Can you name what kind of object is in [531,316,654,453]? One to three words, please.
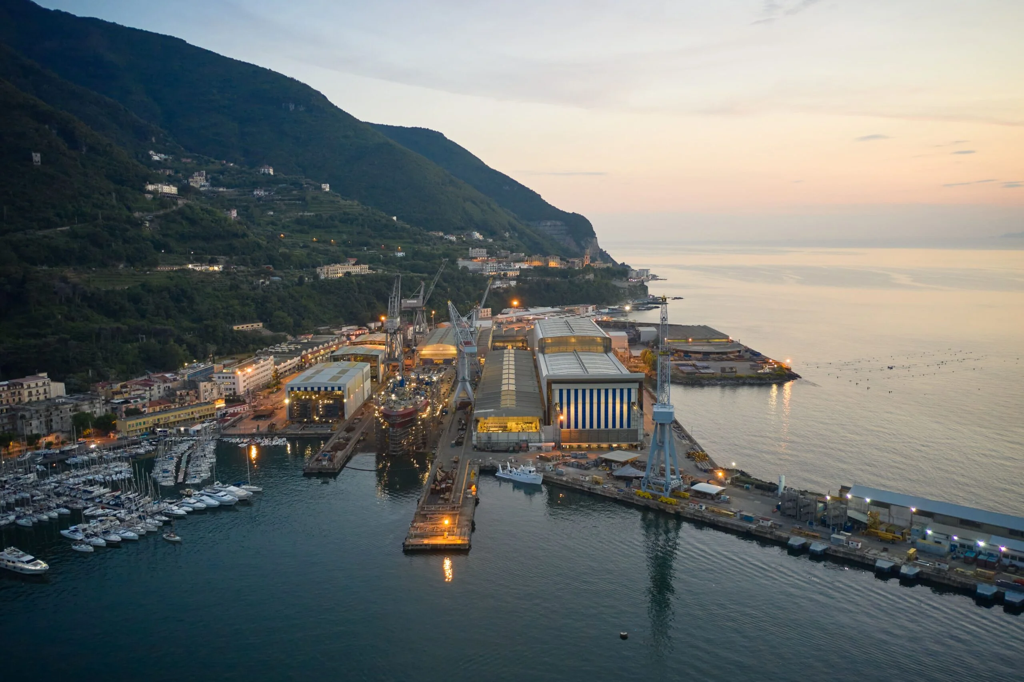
building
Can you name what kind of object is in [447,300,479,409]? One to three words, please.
crane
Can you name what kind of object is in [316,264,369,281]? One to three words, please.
building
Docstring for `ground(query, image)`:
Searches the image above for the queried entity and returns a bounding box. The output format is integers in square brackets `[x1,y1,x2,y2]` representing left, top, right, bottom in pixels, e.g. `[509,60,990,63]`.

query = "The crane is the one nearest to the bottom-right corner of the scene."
[635,292,689,497]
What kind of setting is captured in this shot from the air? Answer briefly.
port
